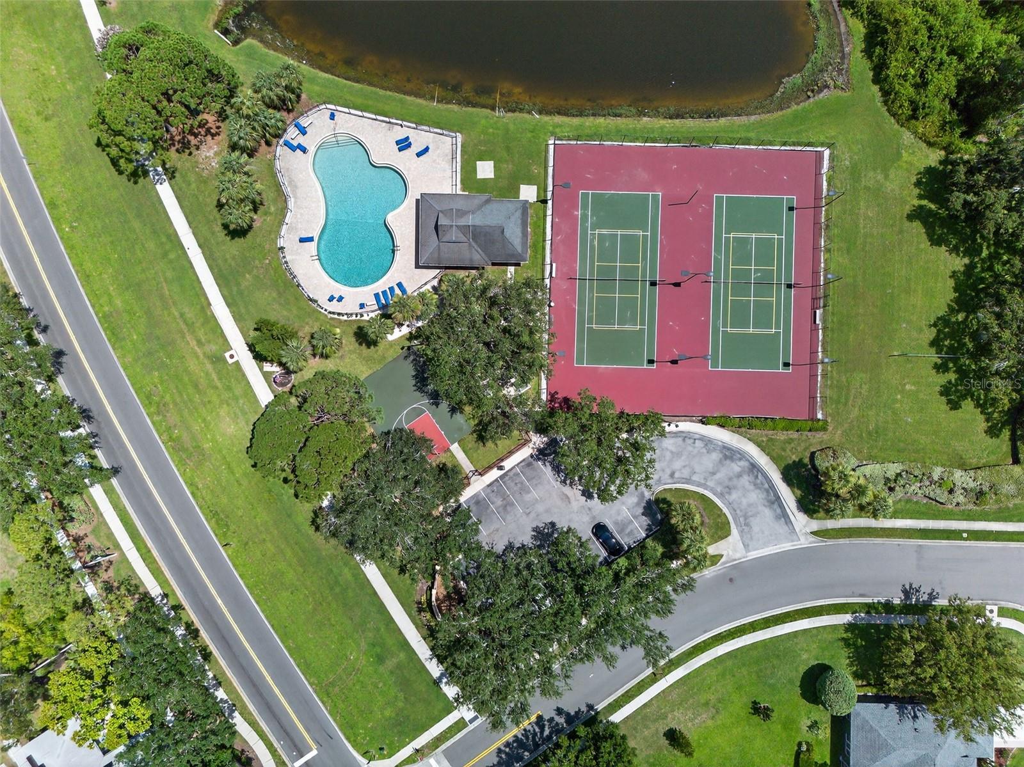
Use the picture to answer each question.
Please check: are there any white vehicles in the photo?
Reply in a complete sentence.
No, there is no white vehicle in the image.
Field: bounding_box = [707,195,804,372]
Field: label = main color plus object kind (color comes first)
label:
green tennis court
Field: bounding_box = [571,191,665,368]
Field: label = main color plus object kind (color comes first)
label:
green tennis court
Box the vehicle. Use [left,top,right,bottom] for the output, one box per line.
[591,523,621,559]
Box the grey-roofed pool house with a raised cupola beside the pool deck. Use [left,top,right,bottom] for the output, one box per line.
[419,193,529,268]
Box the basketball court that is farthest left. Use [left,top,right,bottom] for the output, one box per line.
[353,346,481,471]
